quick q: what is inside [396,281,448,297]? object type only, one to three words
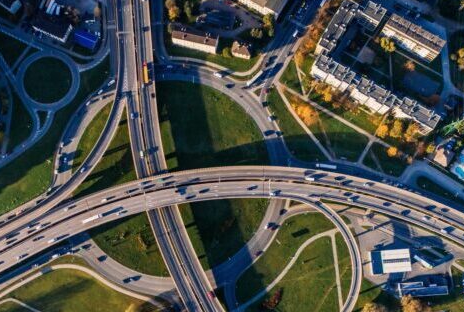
building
